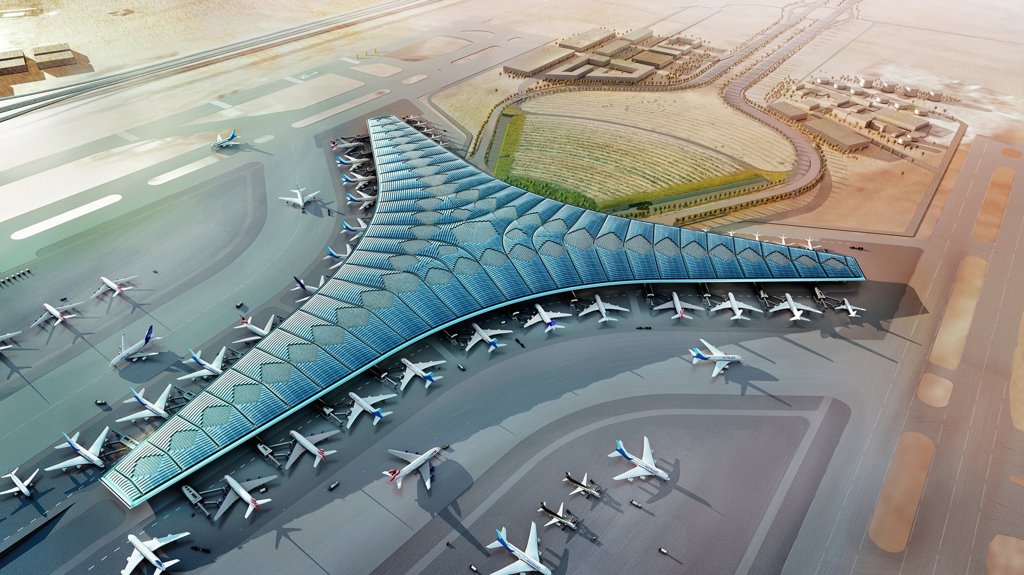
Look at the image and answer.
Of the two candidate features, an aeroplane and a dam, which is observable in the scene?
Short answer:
aeroplane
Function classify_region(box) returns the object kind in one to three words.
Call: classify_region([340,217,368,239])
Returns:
airplane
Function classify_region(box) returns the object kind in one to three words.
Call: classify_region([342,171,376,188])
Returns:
airplane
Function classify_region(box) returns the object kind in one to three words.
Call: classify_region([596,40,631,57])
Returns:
building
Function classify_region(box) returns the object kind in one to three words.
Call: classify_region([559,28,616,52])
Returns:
building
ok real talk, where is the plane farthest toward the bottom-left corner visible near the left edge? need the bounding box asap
[0,468,36,496]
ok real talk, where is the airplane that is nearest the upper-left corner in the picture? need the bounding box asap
[209,131,240,147]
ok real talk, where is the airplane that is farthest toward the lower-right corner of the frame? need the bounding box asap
[835,298,866,318]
